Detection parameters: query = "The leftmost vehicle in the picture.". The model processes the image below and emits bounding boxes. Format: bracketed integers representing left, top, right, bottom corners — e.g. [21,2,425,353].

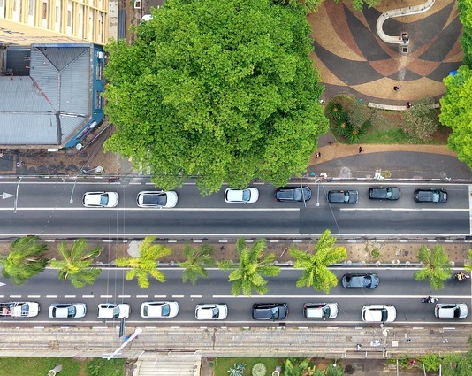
[0,299,42,321]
